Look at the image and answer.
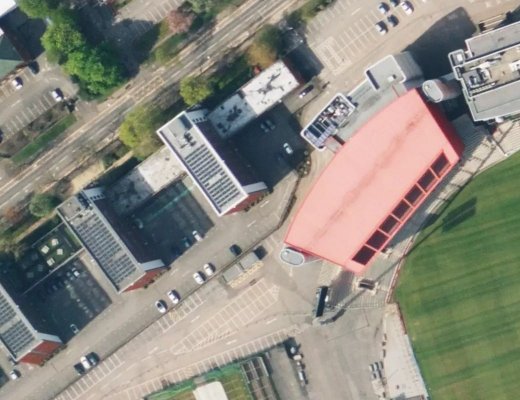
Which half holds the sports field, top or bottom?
bottom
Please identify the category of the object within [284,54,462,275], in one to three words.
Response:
building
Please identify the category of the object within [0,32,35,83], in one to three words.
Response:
building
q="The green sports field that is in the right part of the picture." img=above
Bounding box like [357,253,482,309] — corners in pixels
[394,150,520,400]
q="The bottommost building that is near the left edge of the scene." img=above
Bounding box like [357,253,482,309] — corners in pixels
[0,283,67,362]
